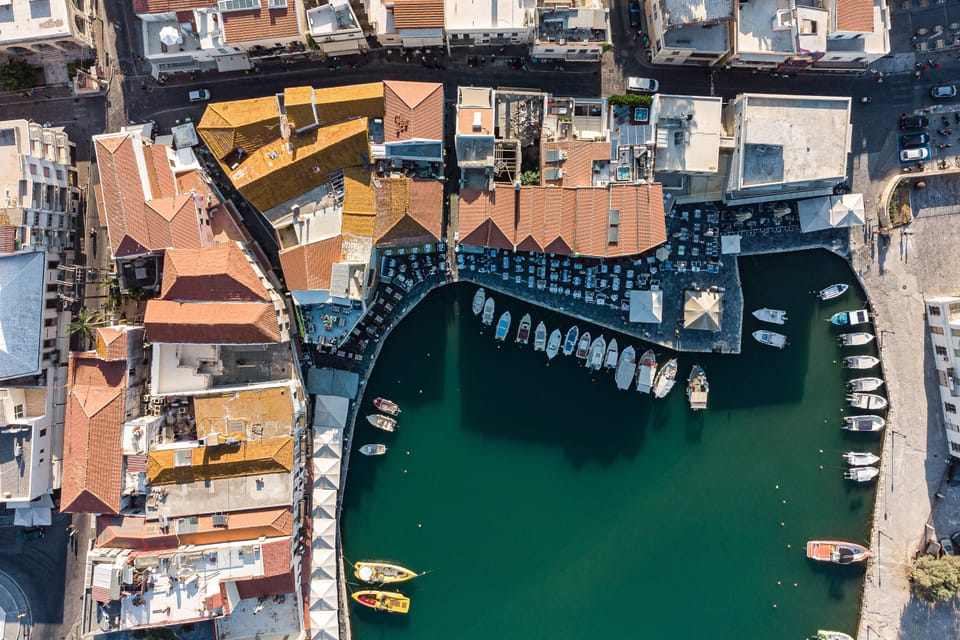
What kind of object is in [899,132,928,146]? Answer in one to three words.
car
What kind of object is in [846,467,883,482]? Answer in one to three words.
boat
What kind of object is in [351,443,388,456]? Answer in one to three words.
boat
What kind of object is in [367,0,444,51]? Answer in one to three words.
house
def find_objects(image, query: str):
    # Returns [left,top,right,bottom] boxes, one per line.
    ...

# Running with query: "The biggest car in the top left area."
[186,87,213,103]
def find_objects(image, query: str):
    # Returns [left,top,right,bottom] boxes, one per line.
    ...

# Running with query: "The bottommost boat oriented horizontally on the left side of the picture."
[348,588,410,613]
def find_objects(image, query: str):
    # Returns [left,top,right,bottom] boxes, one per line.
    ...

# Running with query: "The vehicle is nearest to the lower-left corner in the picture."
[17,528,46,543]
